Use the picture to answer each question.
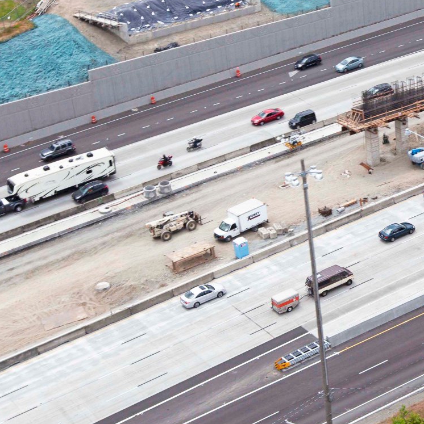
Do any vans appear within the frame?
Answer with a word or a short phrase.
Yes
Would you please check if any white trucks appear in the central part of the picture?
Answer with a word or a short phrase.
Yes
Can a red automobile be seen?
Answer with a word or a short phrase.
Yes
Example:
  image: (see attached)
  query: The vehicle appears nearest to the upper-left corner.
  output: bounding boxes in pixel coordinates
[39,136,78,159]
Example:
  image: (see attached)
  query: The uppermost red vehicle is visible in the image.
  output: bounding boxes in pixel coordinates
[250,108,285,126]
